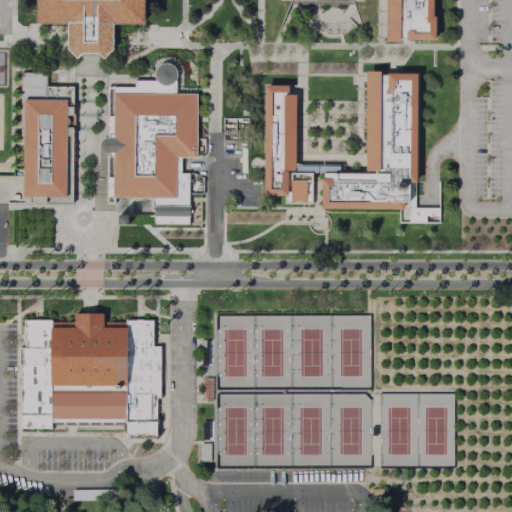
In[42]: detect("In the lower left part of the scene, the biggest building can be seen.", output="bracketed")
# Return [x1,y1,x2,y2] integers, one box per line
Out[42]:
[21,313,162,436]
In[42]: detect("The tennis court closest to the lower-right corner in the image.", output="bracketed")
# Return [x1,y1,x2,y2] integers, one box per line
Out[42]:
[424,408,449,454]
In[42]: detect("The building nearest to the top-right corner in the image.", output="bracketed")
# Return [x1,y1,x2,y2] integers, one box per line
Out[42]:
[388,0,438,42]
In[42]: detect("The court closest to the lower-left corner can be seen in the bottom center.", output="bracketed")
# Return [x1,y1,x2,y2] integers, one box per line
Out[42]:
[226,408,247,455]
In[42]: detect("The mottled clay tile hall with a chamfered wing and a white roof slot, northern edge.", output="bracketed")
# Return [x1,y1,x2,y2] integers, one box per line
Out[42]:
[36,0,145,58]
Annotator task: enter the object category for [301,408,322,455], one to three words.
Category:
tennis court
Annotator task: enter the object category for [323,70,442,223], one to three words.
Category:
building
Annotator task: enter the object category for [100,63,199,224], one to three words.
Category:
building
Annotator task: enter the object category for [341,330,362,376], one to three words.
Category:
tennis court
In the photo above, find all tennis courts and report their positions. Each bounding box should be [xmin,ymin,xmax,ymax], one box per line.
[226,330,246,376]
[340,408,362,455]
[341,330,362,376]
[388,408,412,454]
[301,408,322,455]
[424,408,449,454]
[226,408,247,455]
[262,330,284,376]
[302,330,322,376]
[262,408,284,455]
